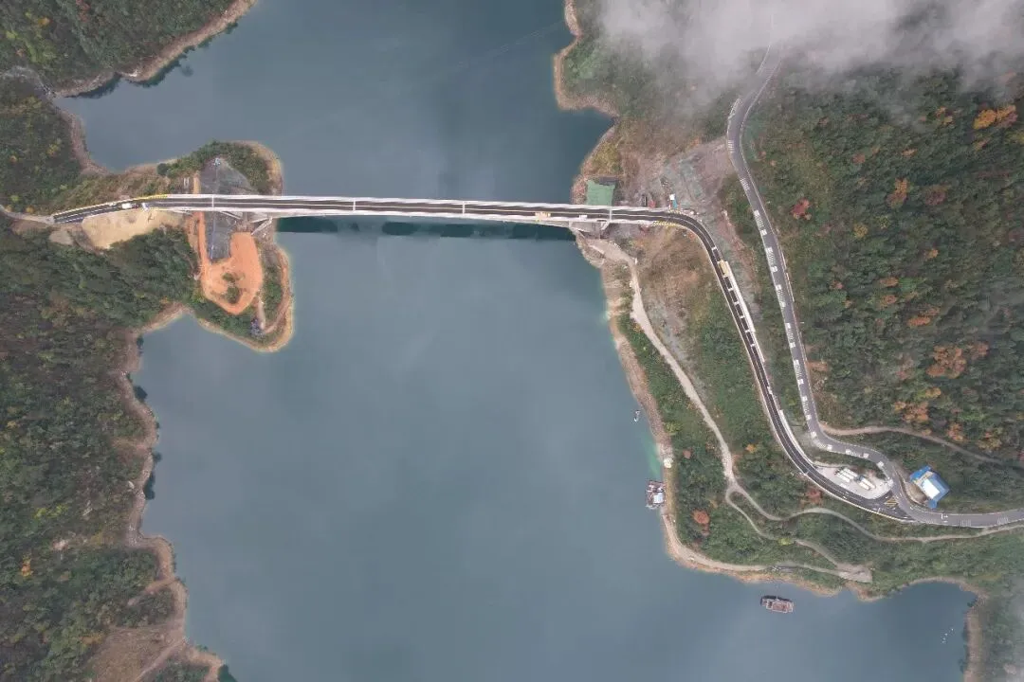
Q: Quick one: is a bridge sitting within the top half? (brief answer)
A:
Yes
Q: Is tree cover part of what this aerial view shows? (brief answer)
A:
Yes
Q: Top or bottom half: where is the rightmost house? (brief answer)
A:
bottom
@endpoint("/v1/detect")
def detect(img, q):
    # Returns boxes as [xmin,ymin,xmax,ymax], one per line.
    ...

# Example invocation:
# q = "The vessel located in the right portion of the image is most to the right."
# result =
[762,596,795,613]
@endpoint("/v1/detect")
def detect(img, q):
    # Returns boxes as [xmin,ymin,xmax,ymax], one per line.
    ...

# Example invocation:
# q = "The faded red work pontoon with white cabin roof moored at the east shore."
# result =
[646,483,665,508]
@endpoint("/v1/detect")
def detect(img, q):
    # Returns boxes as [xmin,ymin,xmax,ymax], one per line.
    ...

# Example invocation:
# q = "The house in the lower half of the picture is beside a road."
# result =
[909,465,949,509]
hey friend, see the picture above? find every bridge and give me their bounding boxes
[141,193,657,233]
